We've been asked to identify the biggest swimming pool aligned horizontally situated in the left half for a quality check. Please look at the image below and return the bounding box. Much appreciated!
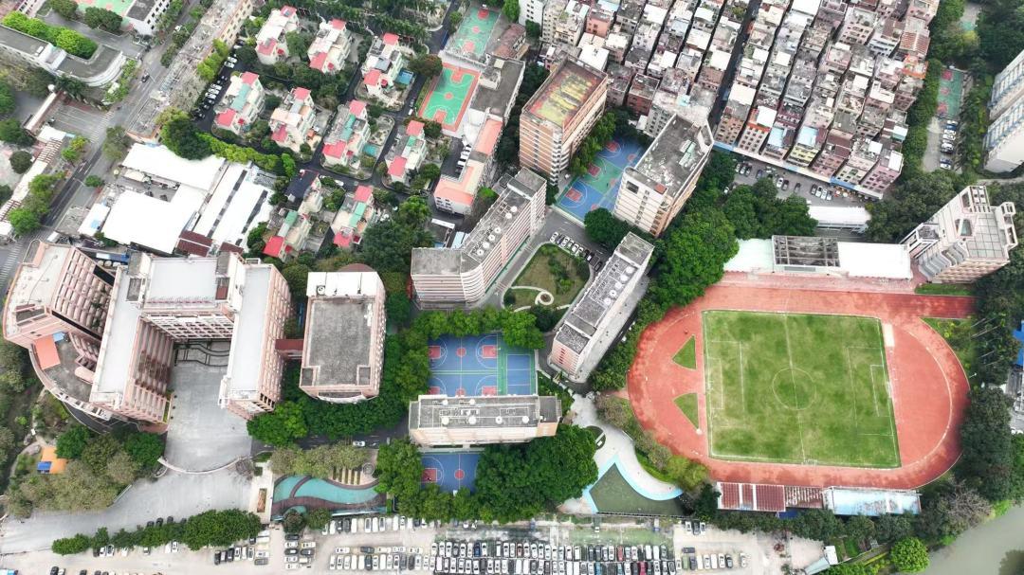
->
[272,473,388,518]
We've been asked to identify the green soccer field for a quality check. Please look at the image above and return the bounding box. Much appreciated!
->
[704,310,900,469]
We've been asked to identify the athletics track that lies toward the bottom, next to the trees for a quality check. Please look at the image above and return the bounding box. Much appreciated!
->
[627,274,975,488]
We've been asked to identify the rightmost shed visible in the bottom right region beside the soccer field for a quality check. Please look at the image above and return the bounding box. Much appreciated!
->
[823,486,919,515]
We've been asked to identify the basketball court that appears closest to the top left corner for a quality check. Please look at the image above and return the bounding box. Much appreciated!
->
[77,0,133,26]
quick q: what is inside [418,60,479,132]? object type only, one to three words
basketball court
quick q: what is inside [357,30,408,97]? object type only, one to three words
house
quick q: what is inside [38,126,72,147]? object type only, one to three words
building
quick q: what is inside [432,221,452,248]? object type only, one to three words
shed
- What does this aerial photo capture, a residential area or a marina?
residential area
